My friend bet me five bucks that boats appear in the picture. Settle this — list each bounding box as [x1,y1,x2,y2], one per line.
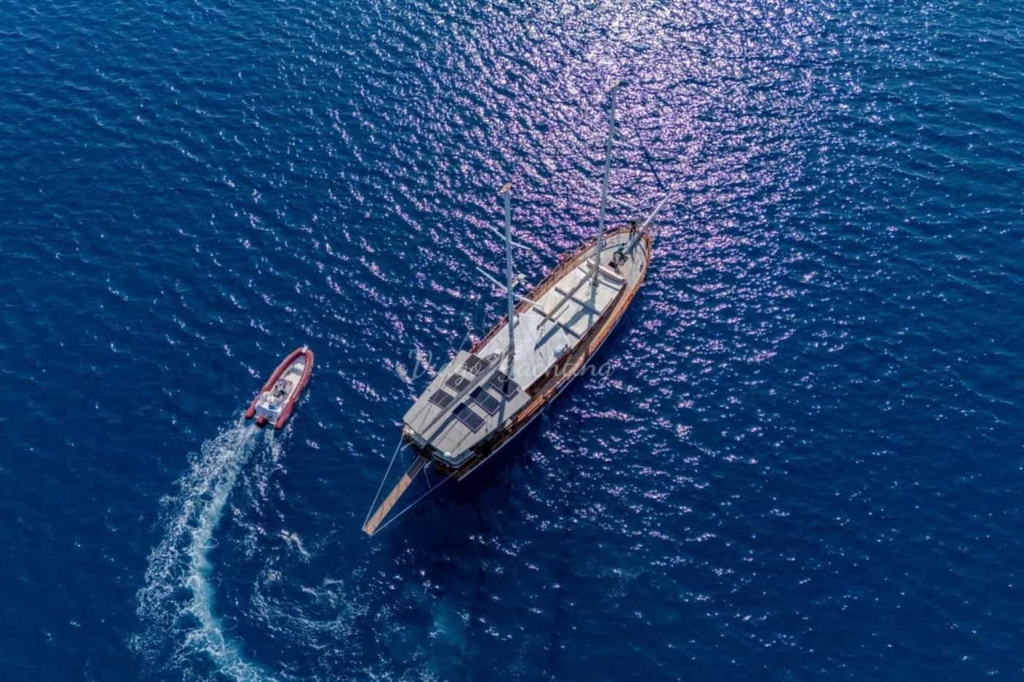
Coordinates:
[360,78,668,539]
[247,343,312,429]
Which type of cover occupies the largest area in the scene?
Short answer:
water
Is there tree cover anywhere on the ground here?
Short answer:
No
